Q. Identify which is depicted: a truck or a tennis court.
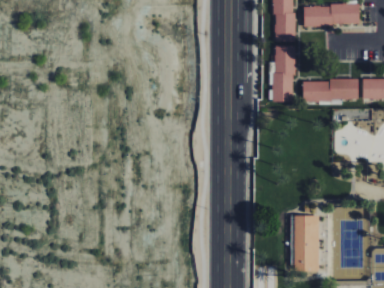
tennis court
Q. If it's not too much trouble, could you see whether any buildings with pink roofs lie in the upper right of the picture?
Yes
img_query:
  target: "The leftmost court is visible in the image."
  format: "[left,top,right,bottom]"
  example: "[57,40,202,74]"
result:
[335,207,370,280]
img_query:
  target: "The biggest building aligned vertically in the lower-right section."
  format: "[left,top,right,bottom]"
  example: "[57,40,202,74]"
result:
[295,216,320,272]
